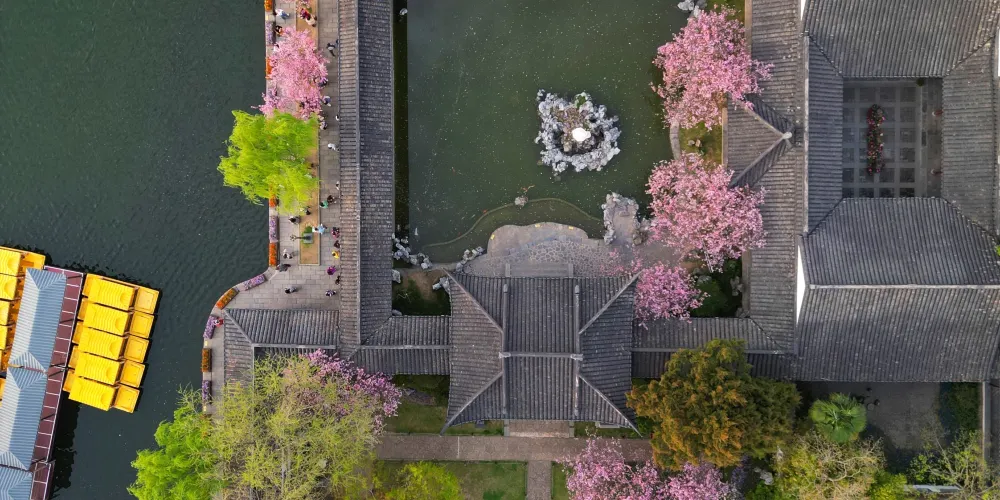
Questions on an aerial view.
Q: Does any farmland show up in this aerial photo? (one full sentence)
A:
No, there's no farmland in this view.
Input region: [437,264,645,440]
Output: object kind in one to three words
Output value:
building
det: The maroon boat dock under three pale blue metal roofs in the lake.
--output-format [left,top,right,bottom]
[0,266,88,500]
